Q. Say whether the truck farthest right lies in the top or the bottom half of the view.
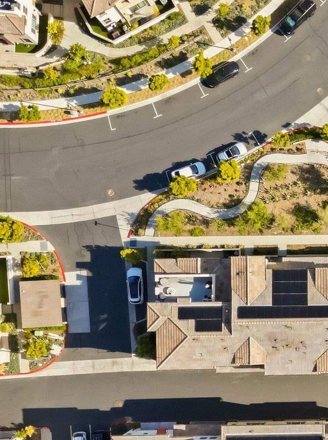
top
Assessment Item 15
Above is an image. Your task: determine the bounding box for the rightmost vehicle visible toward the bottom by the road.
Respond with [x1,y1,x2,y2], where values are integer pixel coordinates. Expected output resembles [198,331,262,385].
[126,268,143,304]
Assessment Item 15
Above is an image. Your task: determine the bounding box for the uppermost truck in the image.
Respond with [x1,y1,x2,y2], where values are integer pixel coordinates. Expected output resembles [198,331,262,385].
[278,0,319,38]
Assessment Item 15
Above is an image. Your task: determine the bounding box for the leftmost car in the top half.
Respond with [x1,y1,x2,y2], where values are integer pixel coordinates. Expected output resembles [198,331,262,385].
[171,159,206,179]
